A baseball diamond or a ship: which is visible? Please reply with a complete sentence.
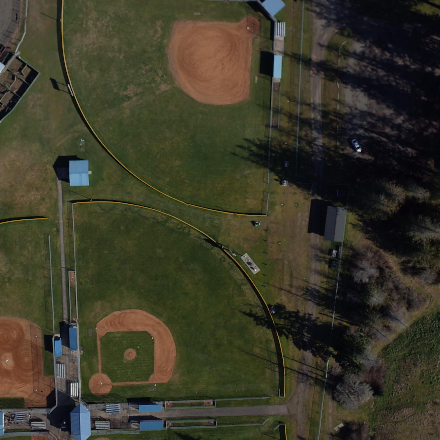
Visible in the photo is a baseball diamond.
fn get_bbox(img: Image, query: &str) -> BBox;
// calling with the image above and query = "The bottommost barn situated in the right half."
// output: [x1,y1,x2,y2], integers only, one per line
[323,206,346,242]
